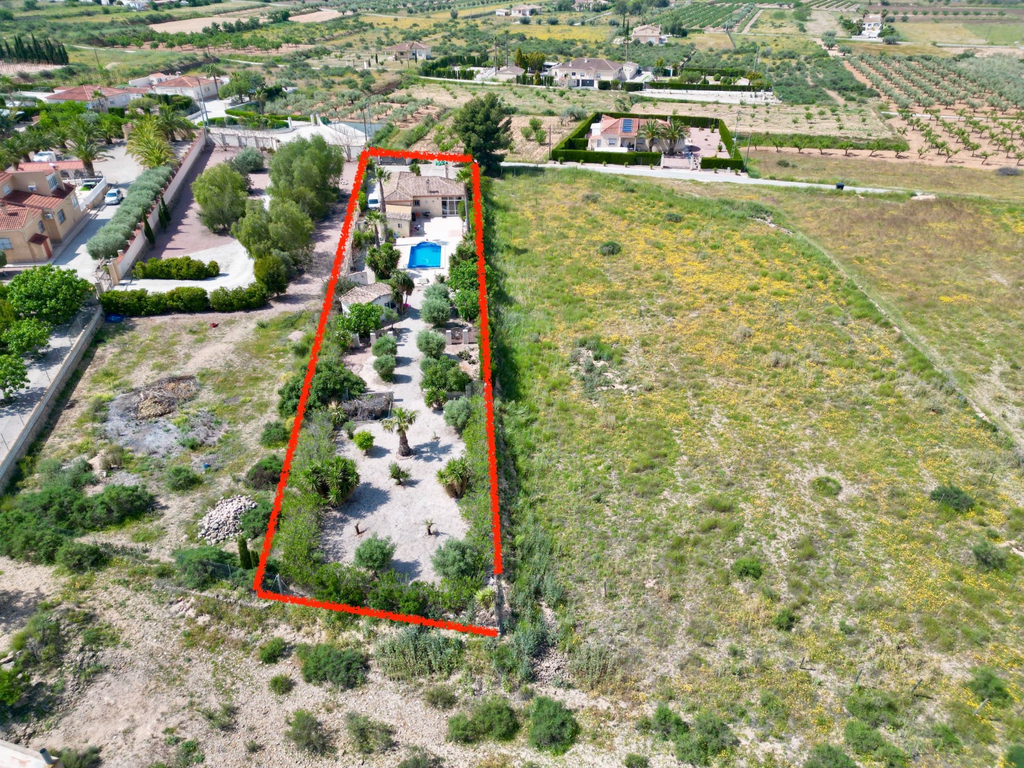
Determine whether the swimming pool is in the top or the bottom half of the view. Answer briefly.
top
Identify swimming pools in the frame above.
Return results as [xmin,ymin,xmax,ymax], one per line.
[405,241,443,268]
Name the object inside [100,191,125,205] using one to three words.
car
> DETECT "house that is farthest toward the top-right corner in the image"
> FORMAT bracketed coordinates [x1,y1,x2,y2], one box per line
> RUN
[853,14,899,38]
